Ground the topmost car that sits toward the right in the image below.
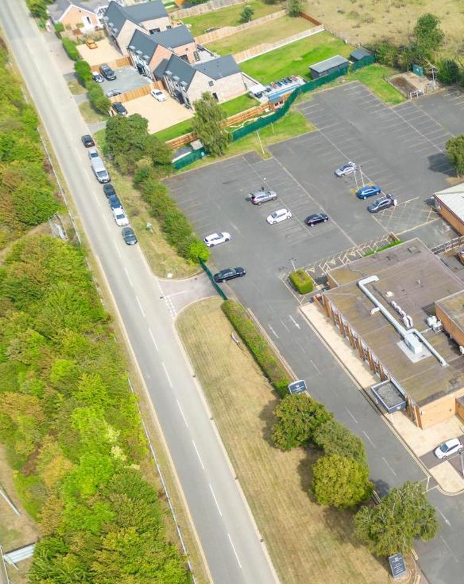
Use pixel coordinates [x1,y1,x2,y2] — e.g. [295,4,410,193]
[335,161,357,176]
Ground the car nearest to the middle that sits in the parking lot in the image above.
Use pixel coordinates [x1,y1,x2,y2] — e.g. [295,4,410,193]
[214,267,247,283]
